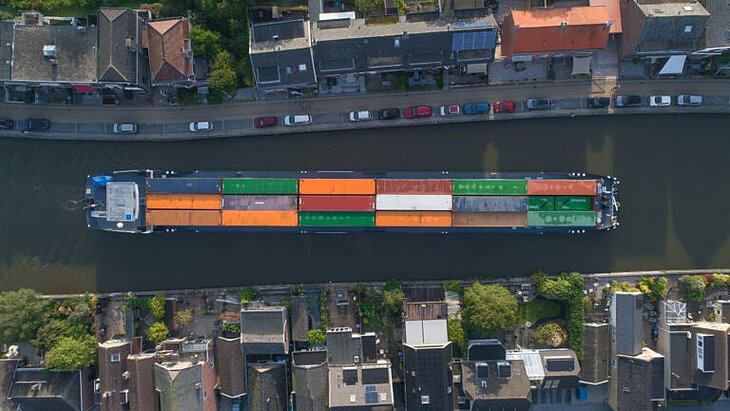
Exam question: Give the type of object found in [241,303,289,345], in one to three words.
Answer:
house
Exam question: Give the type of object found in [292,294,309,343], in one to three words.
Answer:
shed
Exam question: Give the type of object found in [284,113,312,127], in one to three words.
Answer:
vehicle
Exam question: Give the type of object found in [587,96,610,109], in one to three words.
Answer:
vehicle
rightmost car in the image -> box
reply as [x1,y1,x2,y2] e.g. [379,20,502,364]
[674,93,703,106]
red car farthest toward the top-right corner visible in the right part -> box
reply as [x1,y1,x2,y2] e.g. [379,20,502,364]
[493,100,516,113]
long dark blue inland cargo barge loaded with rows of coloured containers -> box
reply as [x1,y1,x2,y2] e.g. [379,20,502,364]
[73,169,620,234]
